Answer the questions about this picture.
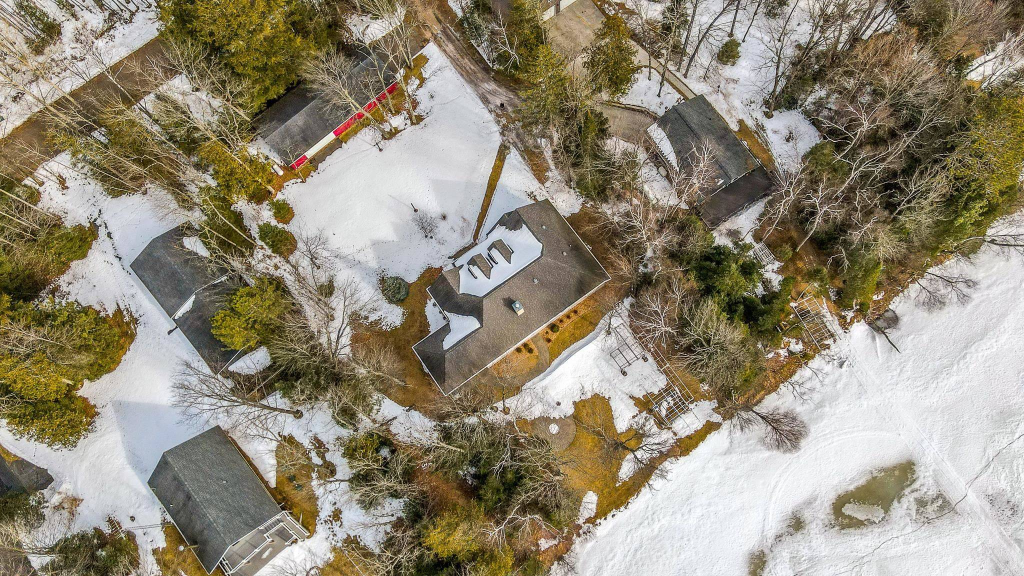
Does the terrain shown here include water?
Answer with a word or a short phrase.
Yes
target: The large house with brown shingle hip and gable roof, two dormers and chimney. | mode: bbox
[412,198,611,396]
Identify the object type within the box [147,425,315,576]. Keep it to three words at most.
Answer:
house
